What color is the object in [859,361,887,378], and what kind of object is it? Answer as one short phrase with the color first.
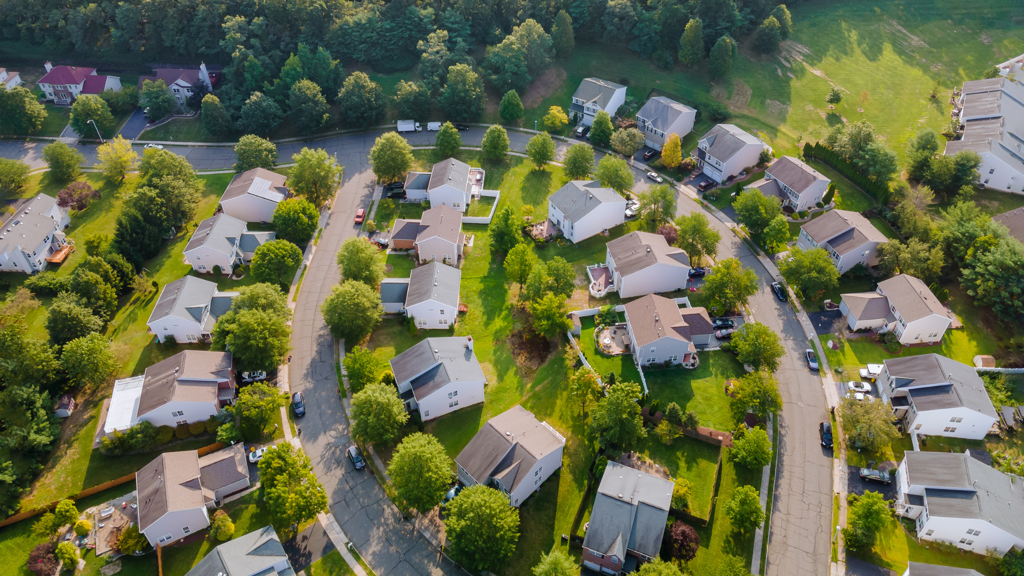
white car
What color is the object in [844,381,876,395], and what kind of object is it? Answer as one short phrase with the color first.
white car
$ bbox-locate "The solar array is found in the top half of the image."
[246,177,281,201]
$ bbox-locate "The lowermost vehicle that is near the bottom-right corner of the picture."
[858,466,893,486]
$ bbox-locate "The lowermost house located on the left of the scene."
[189,526,308,576]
